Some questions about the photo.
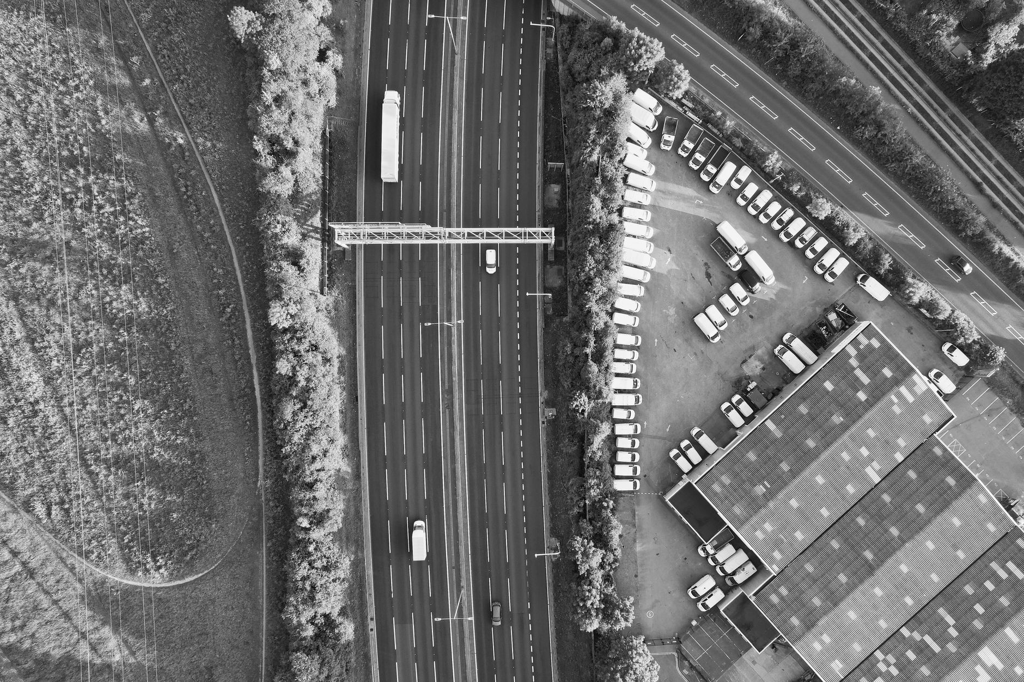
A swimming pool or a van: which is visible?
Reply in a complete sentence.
Of the two, only a van appears.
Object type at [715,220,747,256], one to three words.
van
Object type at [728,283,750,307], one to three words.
vehicle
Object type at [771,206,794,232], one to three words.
car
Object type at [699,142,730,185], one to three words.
truck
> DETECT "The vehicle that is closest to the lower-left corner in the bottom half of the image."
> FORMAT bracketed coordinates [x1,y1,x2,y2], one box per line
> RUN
[412,520,426,562]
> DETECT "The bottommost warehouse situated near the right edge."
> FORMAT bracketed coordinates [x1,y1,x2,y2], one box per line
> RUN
[682,321,1024,682]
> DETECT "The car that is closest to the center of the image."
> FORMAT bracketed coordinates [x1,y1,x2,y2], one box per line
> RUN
[484,249,497,274]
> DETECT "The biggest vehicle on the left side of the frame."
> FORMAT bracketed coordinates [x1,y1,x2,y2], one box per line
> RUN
[383,93,401,181]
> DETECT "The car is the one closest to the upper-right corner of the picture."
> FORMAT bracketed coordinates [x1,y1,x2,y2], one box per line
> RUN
[949,254,972,275]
